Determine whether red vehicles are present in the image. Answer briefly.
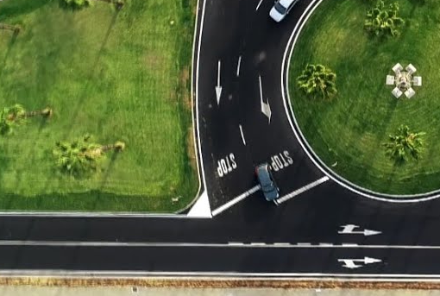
No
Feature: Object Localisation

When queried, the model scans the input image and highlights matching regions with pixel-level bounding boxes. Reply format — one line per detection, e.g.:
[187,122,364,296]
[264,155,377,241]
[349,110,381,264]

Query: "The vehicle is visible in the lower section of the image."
[255,163,279,200]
